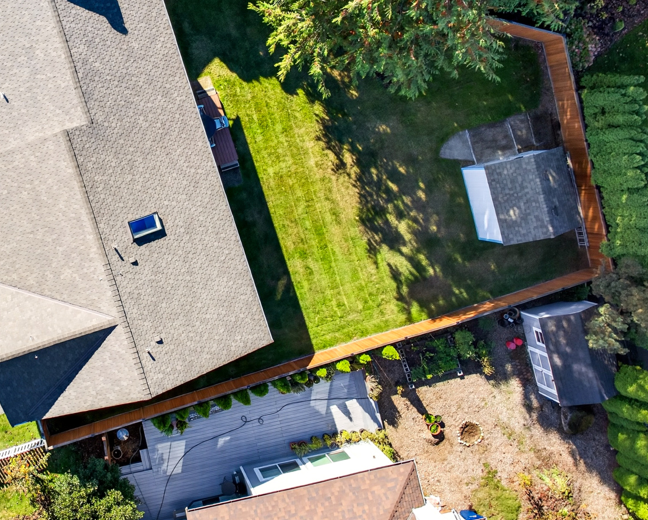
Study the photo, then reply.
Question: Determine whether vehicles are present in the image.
No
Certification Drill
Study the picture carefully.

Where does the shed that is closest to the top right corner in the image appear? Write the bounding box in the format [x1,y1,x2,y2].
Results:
[461,145,577,247]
